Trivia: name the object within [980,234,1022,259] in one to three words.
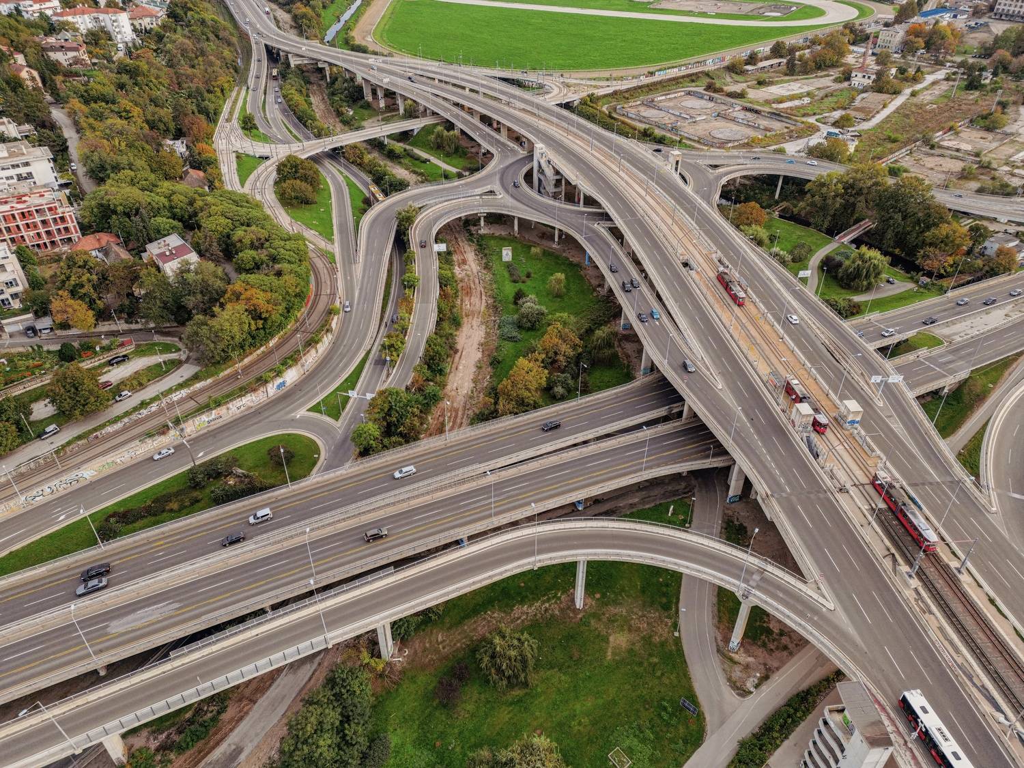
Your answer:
house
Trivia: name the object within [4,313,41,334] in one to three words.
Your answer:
house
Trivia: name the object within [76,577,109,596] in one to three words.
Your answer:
car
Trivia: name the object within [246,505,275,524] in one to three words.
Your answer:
vehicle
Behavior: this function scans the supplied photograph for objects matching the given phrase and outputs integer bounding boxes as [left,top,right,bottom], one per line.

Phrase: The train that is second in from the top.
[786,374,829,431]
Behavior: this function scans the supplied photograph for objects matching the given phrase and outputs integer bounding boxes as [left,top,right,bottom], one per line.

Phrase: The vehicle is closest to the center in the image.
[540,417,563,432]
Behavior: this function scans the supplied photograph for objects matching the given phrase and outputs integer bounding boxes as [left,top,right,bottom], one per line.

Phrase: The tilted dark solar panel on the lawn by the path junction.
[675,694,703,717]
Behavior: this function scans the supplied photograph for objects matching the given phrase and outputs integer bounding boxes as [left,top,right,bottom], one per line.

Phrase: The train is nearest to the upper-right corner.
[718,265,748,303]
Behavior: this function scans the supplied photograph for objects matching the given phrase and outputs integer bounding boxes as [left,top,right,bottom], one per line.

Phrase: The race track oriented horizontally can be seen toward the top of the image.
[352,0,894,76]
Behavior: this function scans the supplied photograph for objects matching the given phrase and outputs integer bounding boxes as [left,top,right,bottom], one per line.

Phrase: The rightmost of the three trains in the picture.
[873,468,939,550]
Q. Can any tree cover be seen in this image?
Yes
